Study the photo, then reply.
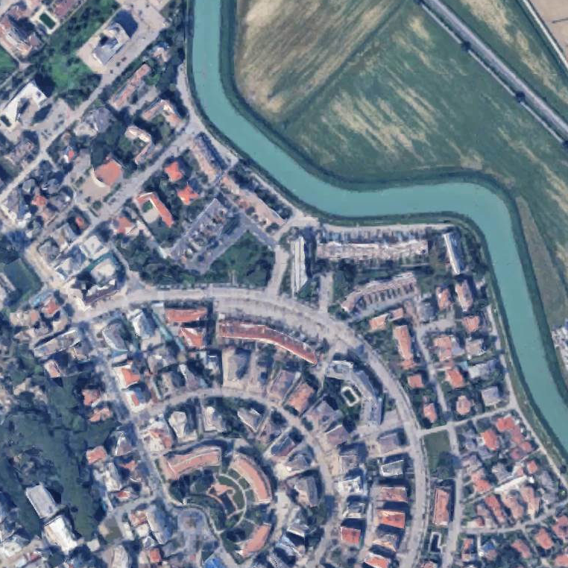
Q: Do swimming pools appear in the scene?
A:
Yes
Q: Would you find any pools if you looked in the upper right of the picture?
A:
No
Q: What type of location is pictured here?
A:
residential area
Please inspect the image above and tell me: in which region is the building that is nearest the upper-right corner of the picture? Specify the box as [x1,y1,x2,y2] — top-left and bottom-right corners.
[437,230,464,274]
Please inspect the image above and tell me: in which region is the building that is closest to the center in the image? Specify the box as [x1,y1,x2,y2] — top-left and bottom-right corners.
[287,235,306,292]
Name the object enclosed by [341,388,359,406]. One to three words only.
swimming pool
